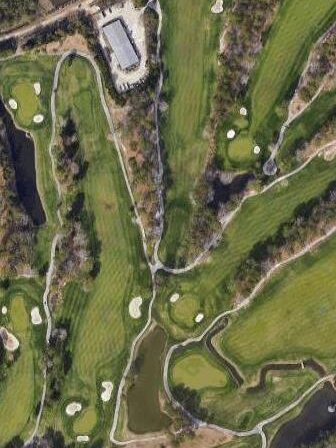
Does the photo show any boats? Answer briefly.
No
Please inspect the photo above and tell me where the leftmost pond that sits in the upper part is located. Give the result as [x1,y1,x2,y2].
[0,102,47,226]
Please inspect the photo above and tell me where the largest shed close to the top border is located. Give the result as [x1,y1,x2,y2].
[103,20,139,68]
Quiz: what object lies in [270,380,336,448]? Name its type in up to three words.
pond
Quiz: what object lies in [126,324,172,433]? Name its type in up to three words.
pond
